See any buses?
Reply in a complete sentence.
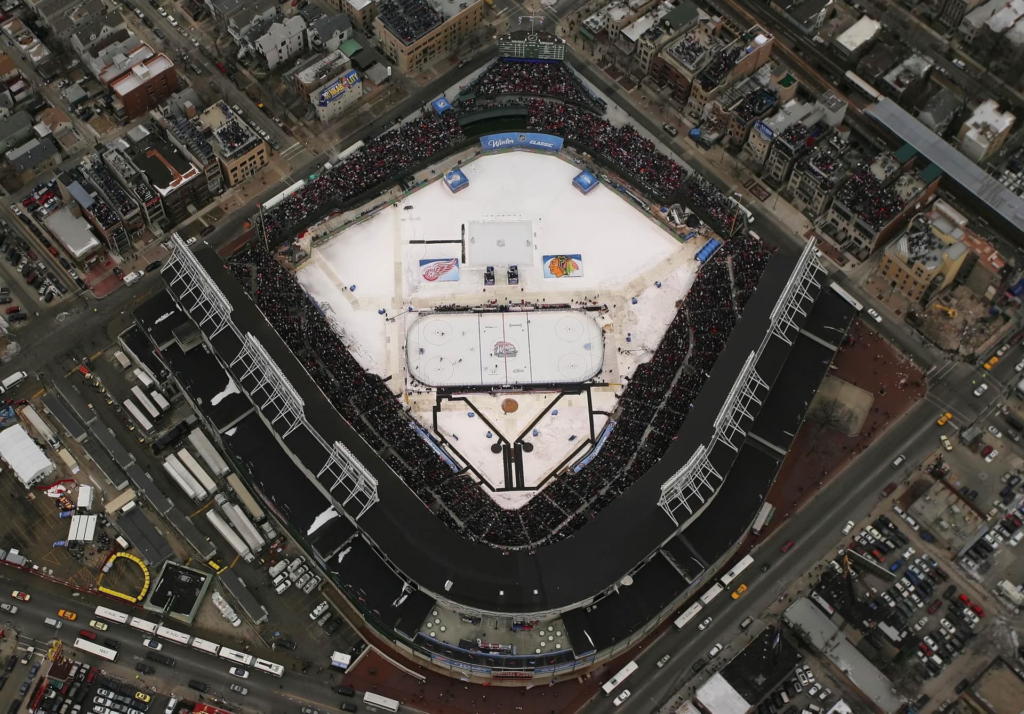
Yes, a bus appears in the view.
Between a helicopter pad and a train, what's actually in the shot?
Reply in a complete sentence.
This aerial view contains a train.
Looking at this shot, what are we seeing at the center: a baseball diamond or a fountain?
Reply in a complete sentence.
You can see a baseball diamond at the center.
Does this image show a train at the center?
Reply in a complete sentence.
No, there is no train at the center.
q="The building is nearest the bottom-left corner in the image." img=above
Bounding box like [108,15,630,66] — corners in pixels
[44,659,72,680]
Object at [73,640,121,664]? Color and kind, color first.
white bus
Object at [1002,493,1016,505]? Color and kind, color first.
black vehicle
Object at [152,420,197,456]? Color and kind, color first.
black truck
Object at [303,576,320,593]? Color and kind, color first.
gray vehicle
